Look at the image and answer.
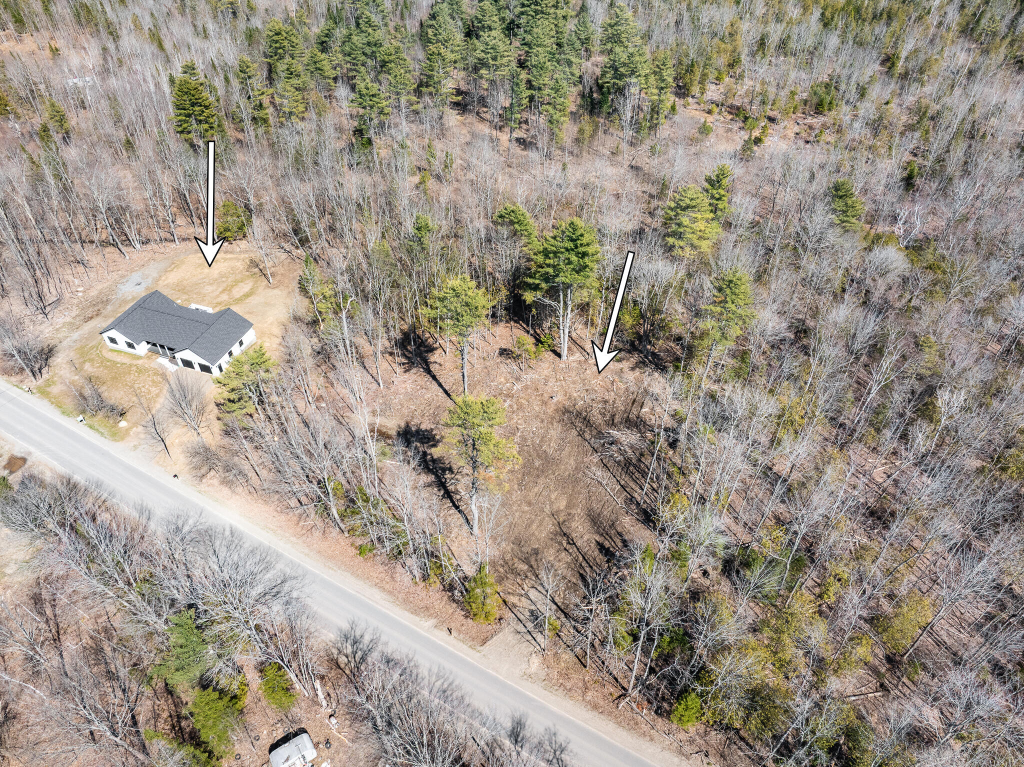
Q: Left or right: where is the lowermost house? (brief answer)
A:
left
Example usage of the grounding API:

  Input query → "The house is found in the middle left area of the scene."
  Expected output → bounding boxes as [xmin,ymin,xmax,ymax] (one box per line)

[100,291,255,377]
